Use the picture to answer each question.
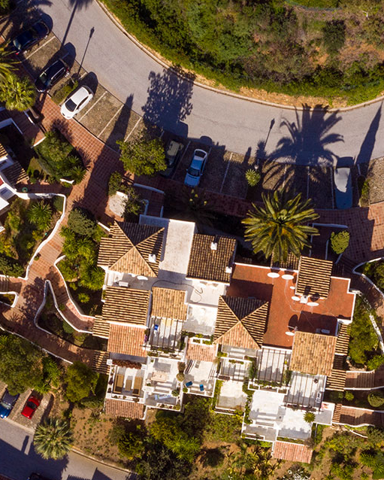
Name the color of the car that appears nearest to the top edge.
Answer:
black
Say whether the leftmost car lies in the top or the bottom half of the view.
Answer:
bottom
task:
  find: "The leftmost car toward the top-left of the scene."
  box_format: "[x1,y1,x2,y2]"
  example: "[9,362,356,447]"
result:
[12,20,53,54]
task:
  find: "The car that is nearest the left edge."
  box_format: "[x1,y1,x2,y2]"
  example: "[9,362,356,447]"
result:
[0,389,21,422]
